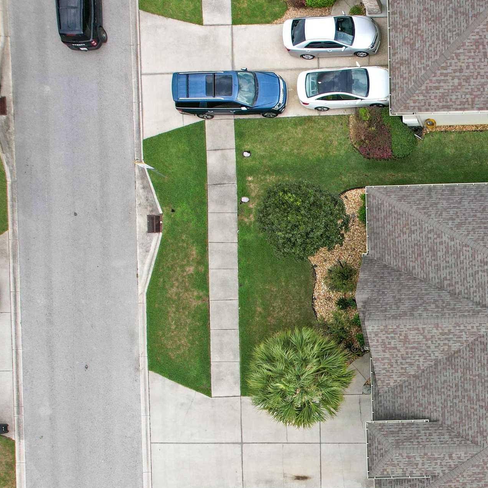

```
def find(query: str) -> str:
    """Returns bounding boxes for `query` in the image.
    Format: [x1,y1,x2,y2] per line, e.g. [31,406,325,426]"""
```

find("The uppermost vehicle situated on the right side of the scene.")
[281,10,379,60]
